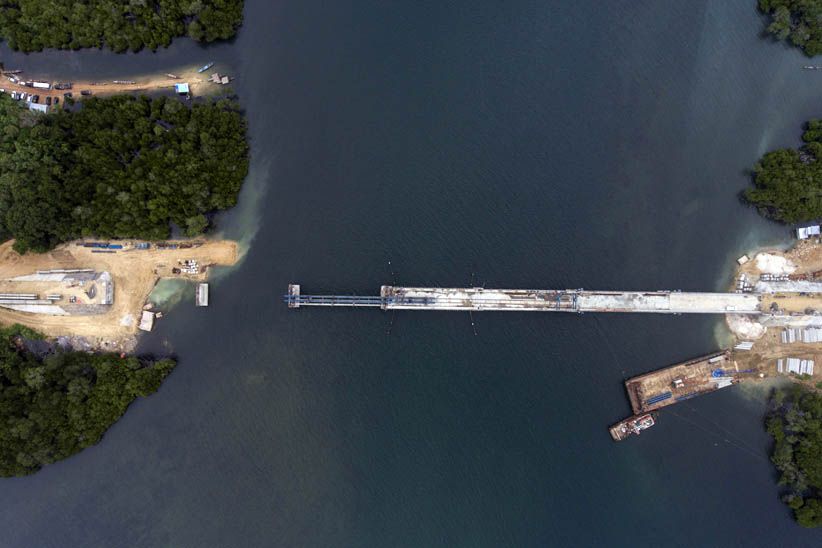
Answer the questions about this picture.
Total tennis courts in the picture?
0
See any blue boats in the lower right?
No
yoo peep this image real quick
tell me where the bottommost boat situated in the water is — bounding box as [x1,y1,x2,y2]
[609,414,655,440]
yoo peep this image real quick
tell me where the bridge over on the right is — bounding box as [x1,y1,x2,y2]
[382,286,767,315]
